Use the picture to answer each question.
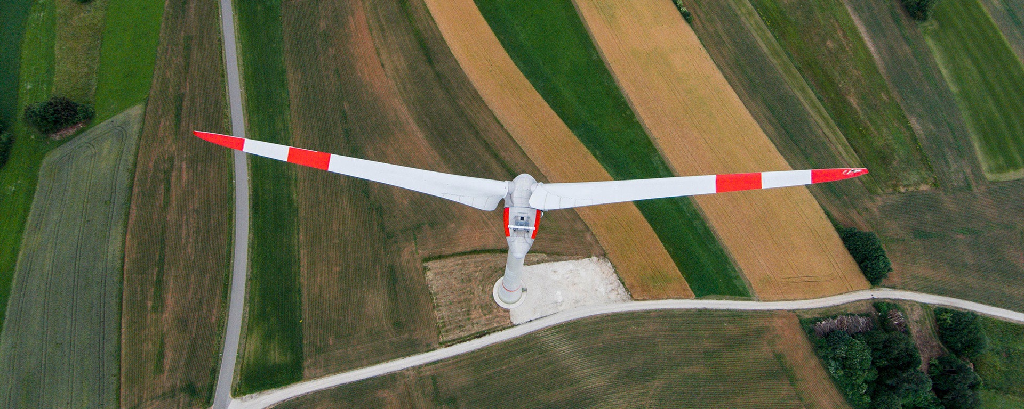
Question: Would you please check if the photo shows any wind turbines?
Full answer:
Yes, you can see a wind turbine in this photo.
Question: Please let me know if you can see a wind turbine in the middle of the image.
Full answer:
Yes, a wind turbine is visible in the middle of the image.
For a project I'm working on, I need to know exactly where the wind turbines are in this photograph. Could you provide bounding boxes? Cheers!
[192,130,868,309]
